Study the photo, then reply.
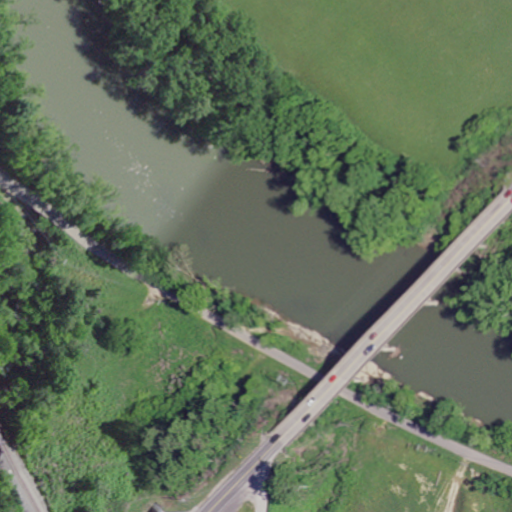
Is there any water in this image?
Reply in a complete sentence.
Yes, water can be seen from above here.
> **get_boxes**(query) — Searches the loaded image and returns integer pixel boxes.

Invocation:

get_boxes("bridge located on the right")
[264,188,512,456]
